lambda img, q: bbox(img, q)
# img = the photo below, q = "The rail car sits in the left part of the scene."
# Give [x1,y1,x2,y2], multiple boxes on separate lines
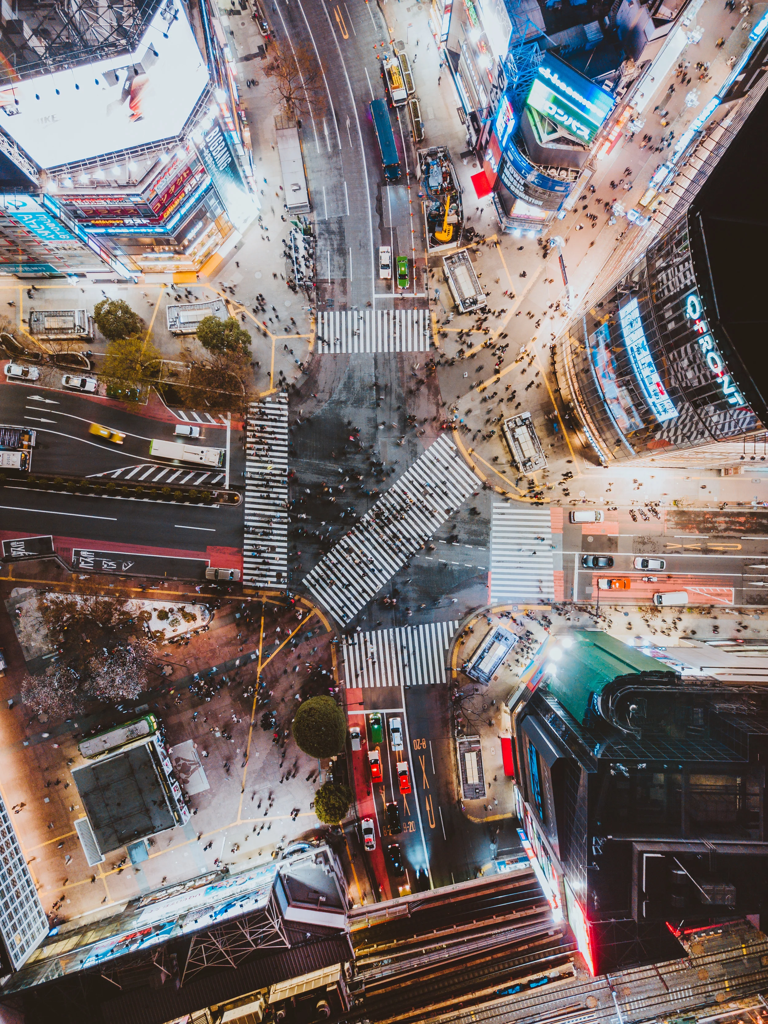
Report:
[79,711,162,757]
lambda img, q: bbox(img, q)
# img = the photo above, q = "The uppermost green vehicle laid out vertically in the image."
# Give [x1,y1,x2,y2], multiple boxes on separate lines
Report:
[396,257,410,290]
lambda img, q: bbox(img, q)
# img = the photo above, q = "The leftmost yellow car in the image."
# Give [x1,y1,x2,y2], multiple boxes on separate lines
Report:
[91,424,125,443]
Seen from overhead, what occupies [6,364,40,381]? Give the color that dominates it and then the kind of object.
white car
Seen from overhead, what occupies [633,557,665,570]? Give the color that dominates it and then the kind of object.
white vehicle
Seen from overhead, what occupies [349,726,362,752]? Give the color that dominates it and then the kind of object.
gray vehicle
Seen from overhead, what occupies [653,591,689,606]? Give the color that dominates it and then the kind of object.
white vehicle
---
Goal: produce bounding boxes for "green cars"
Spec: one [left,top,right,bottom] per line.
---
[396,257,410,290]
[370,711,383,743]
